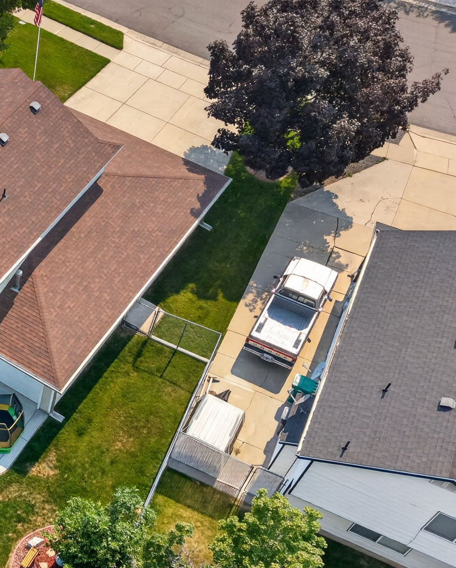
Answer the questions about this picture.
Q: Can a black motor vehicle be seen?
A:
No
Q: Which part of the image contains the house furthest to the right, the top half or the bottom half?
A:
bottom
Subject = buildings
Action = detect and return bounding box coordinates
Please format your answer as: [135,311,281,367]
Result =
[265,232,456,568]
[0,69,235,418]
